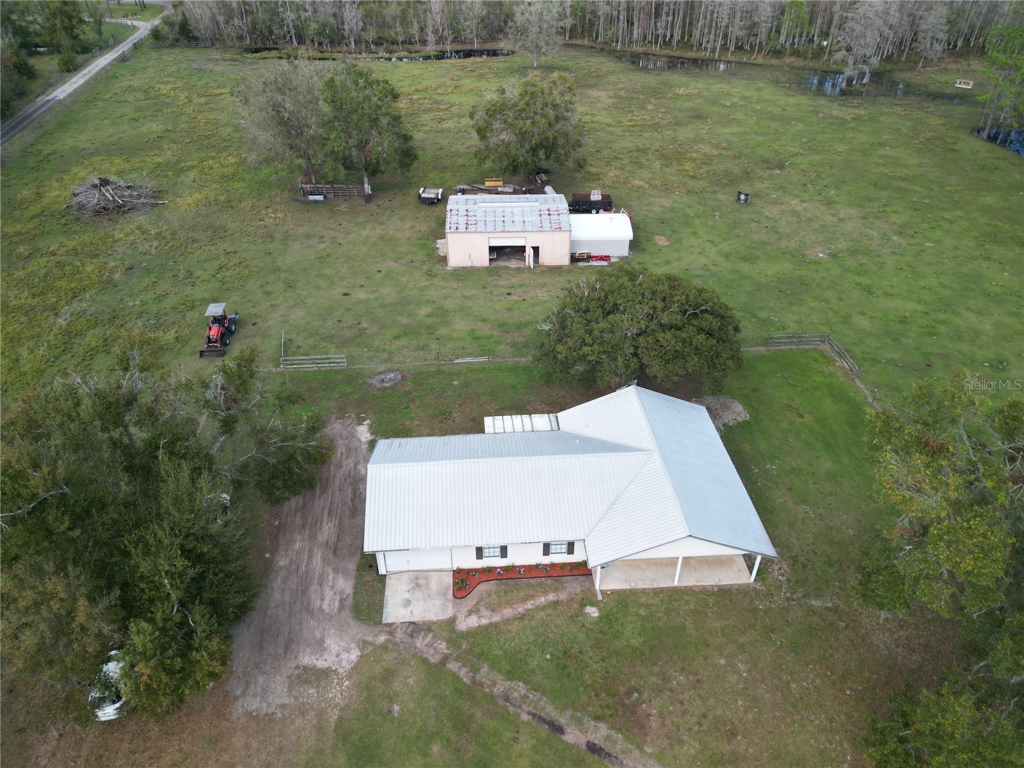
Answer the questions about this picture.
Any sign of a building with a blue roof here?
No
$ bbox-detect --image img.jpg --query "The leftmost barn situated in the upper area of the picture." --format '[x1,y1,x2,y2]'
[445,193,573,269]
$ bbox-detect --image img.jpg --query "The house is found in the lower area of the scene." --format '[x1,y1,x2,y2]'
[364,378,778,592]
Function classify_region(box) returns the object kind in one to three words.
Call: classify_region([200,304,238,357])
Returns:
work vehicle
